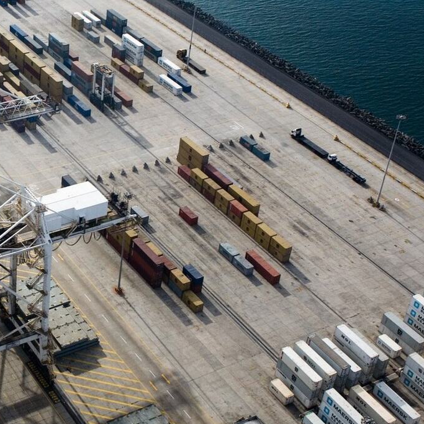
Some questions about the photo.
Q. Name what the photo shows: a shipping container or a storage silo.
shipping container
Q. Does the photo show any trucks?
Yes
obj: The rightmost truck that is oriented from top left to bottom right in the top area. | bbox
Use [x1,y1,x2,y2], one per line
[326,150,369,183]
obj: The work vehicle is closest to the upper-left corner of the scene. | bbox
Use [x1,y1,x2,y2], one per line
[91,63,119,111]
